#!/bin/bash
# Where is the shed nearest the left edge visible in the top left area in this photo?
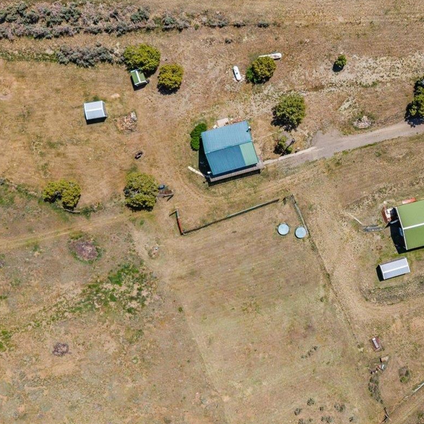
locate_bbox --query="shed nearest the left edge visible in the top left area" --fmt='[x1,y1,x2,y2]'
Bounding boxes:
[85,101,108,120]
